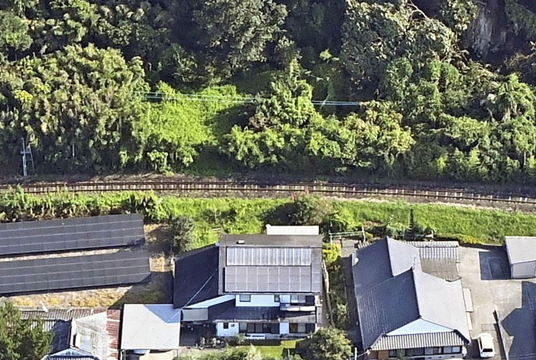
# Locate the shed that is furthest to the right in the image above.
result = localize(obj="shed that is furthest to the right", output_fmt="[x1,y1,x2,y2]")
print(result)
[506,236,536,278]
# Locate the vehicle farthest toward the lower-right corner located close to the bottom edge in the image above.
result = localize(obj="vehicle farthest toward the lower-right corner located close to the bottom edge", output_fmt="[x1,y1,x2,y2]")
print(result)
[477,328,495,357]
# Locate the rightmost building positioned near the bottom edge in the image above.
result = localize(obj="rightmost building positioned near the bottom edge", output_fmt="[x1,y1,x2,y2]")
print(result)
[351,236,473,359]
